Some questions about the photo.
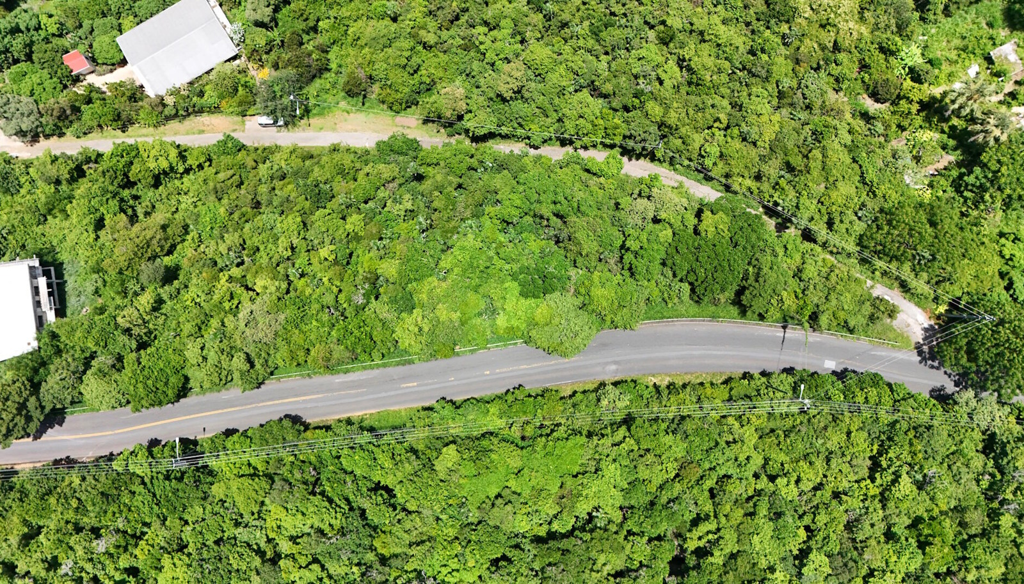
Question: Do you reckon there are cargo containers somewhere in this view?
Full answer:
No, I can see no cargo container in this picture.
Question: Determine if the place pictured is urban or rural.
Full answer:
The land in this view is best described as rural.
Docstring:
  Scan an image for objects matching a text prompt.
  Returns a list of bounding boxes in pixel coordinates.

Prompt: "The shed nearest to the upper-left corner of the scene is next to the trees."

[62,50,94,76]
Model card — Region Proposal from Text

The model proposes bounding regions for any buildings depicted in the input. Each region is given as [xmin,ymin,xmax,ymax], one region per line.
[116,0,243,99]
[62,50,94,76]
[0,254,73,363]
